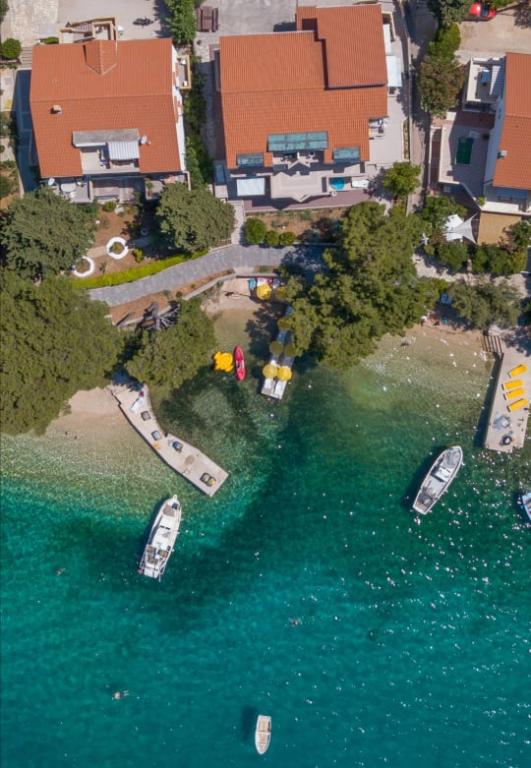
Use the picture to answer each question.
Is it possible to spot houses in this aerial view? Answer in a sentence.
Yes, the photo shows a house.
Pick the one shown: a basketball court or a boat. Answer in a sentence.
Of the two, only a boat appears.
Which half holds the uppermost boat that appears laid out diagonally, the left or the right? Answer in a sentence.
You can find the uppermost boat that appears laid out diagonally on the right side of the picture.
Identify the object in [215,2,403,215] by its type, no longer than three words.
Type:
house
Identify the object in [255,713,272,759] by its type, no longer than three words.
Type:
boat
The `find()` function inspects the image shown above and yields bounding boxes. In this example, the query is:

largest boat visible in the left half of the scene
[130,496,178,586]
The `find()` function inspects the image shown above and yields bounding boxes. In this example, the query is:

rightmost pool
[455,136,473,166]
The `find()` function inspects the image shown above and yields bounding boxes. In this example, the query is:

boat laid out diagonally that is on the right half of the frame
[410,447,466,520]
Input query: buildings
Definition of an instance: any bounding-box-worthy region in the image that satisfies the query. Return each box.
[28,16,193,213]
[424,52,531,250]
[215,2,403,215]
